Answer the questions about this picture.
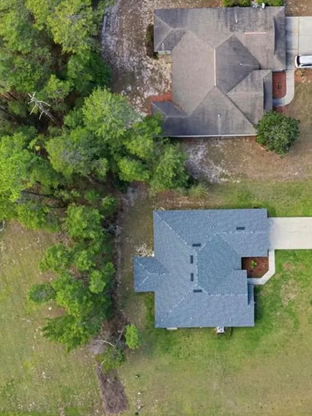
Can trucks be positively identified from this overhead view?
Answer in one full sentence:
No, the picture doesn't show any truck.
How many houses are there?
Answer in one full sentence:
The count of houses comes to 2.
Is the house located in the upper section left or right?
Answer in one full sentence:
The house located in the upper section appears in the right half of the scene.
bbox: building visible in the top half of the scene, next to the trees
[152,4,287,139]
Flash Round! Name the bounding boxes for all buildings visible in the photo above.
[133,208,268,329]
[152,4,287,139]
